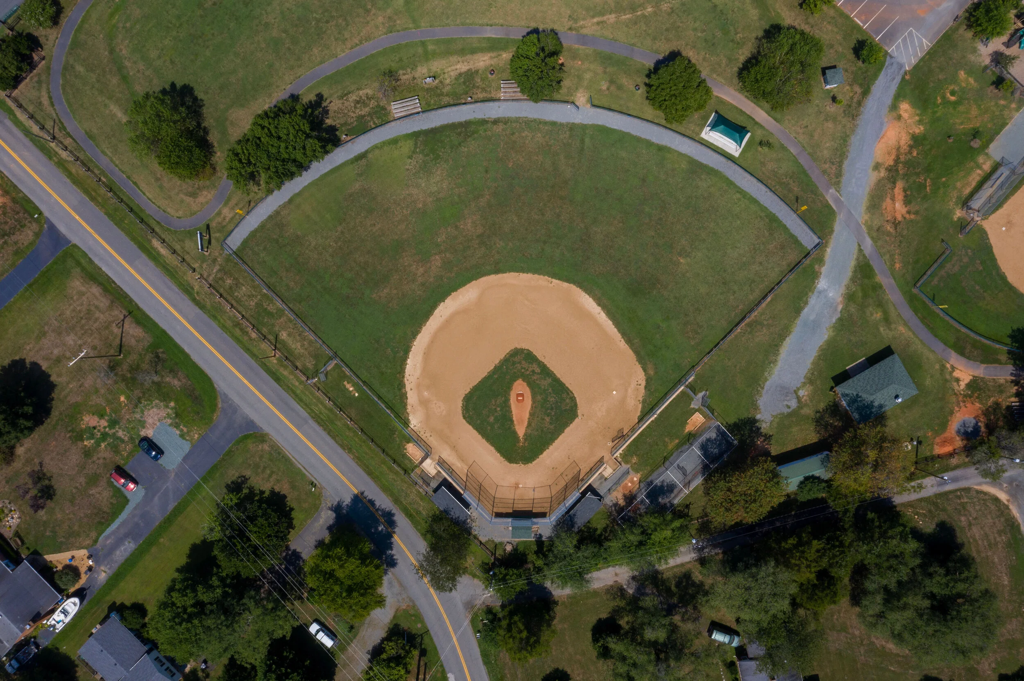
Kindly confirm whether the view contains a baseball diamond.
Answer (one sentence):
Yes, the frame does contain a baseball diamond.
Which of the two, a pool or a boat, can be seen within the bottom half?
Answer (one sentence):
Visible within the bottom half is a boat.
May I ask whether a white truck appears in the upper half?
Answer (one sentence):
No, looking in the upper half, there is no white truck.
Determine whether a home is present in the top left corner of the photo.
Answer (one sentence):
No, the scene shows no home in the top left corner of the photo.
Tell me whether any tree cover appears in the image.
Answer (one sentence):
Yes, tree cover shows up in the scene.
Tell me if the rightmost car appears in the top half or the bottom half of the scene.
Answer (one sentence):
It is in the bottom half that the rightmost car appears.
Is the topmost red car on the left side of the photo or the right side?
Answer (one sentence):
The topmost red car appears in the left half of the scene.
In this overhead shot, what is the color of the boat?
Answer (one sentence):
From above, the boat appears white.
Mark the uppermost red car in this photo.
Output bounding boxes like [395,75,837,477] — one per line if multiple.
[107,466,137,493]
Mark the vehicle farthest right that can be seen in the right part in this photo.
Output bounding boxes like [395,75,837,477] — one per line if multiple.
[711,628,741,648]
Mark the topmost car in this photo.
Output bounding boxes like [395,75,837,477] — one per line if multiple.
[137,437,162,462]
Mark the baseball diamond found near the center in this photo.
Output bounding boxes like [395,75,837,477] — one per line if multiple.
[223,99,823,517]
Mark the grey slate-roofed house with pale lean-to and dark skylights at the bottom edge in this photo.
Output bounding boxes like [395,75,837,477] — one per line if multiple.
[77,612,188,681]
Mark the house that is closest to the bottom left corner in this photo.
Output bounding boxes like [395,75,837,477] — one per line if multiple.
[0,555,68,659]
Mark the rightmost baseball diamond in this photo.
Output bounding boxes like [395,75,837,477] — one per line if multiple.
[919,182,1024,350]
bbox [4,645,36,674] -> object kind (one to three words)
truck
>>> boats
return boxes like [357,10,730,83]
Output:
[41,604,73,638]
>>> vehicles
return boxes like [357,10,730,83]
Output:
[137,437,162,462]
[107,466,137,493]
[306,623,339,653]
[711,628,741,648]
[4,645,36,674]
